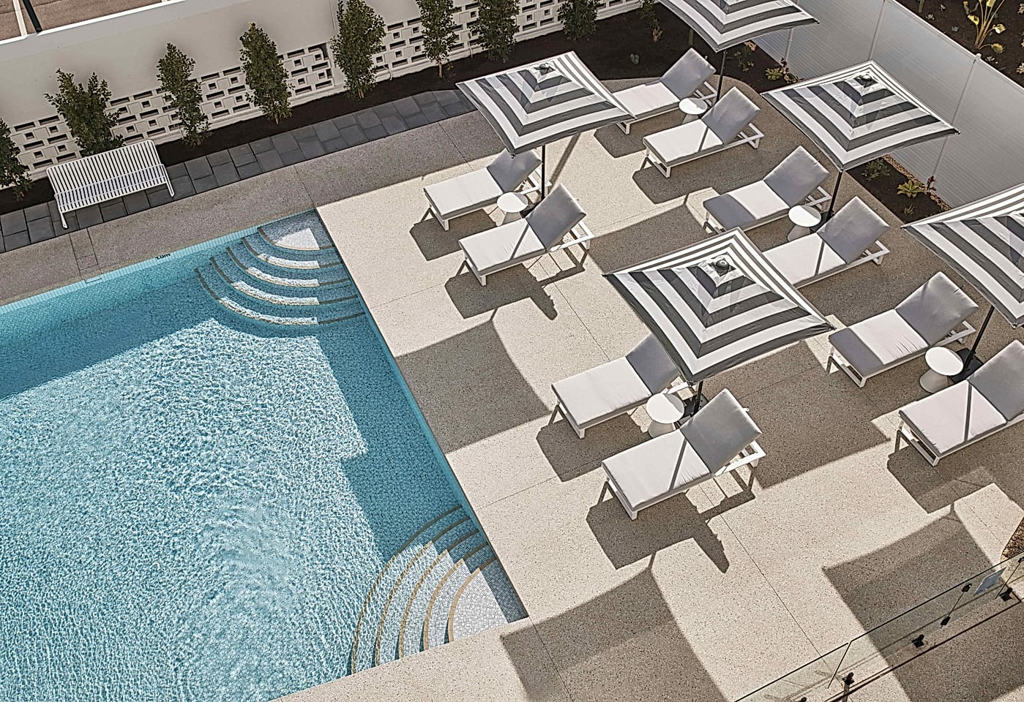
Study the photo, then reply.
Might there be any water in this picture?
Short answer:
Yes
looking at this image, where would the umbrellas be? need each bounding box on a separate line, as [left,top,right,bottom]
[602,225,837,427]
[457,49,637,214]
[759,60,961,235]
[655,0,821,118]
[900,179,1024,384]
